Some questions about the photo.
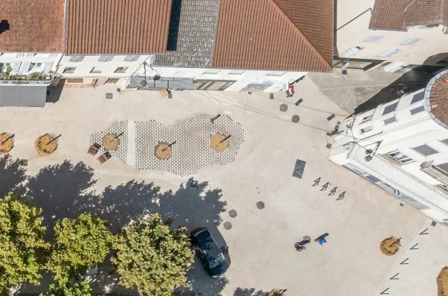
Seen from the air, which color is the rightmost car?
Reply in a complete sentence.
The color of the rightmost car is black.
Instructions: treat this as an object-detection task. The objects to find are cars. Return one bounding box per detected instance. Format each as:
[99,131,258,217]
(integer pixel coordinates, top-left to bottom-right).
[190,221,232,282]
[87,248,114,296]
